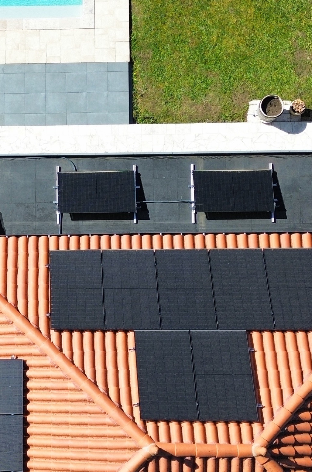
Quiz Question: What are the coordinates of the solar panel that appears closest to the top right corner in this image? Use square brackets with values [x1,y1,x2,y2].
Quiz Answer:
[189,164,278,223]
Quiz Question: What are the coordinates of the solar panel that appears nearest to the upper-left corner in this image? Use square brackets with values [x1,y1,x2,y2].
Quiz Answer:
[55,165,140,223]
